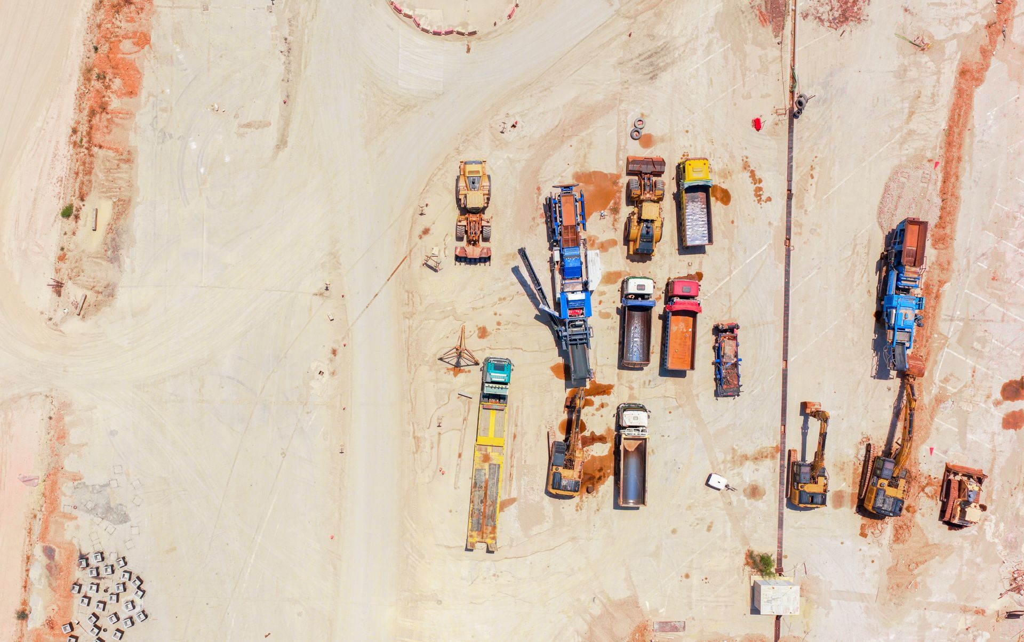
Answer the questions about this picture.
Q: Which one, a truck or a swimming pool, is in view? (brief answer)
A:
truck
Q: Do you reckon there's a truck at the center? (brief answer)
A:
Yes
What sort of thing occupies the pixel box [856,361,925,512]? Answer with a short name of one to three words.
work vehicle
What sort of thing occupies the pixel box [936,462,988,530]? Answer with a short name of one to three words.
work vehicle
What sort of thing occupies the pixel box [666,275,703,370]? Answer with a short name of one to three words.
truck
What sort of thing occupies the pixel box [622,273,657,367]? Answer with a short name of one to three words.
truck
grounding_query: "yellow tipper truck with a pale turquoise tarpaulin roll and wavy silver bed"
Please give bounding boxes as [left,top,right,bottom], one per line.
[679,156,714,245]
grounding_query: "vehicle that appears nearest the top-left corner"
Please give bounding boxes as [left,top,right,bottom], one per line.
[455,157,491,264]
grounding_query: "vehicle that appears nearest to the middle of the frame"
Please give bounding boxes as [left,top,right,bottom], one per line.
[480,354,515,410]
